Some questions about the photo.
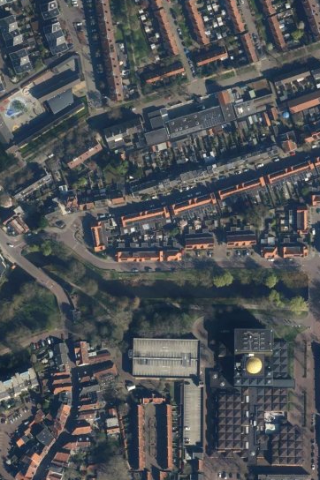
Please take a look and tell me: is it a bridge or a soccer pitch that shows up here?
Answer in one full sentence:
There is a bridge in the scene.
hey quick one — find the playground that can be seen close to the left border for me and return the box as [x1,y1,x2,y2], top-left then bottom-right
[0,87,34,116]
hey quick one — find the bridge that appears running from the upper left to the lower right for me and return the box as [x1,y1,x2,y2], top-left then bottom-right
[12,247,51,286]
